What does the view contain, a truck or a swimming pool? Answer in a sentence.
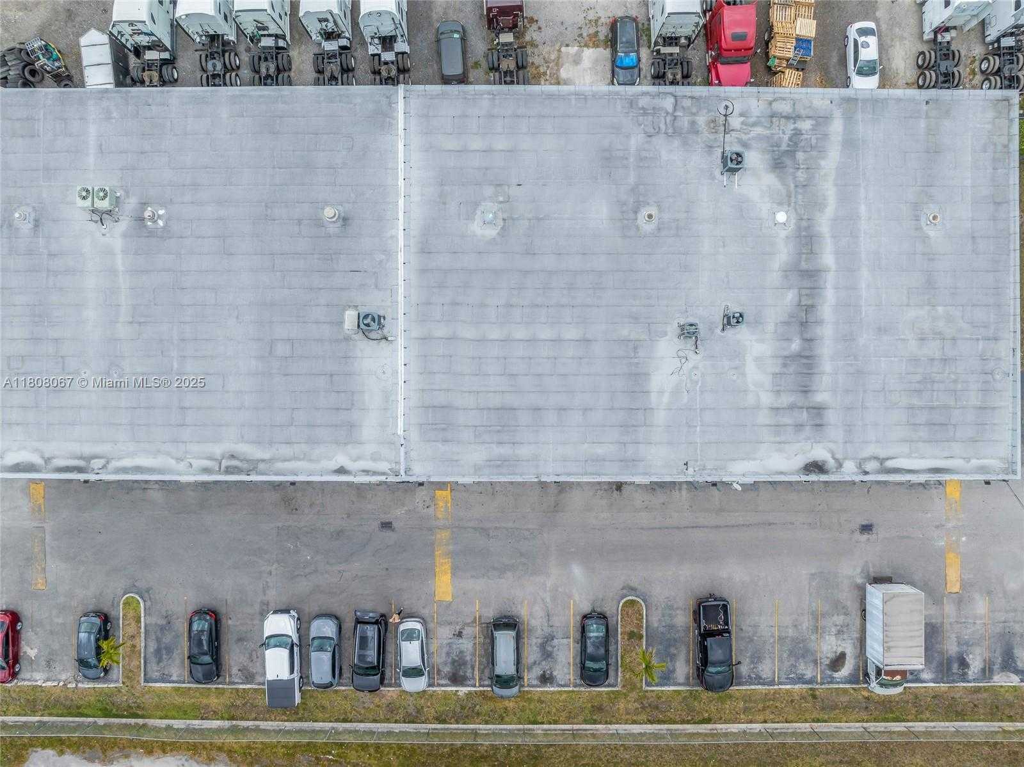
Visible in the photo is a truck.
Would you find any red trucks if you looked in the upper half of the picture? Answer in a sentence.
Yes, in the upper half of the picture there is a red truck.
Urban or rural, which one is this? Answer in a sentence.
From above, the setting appears urban.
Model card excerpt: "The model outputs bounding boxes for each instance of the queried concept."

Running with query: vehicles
[434,20,469,85]
[106,0,179,86]
[976,0,1024,94]
[306,613,343,689]
[607,13,643,86]
[261,607,303,708]
[0,610,26,684]
[488,0,528,86]
[349,614,387,696]
[177,0,242,86]
[360,0,410,85]
[696,586,737,691]
[651,0,704,87]
[914,0,993,88]
[184,607,224,682]
[578,610,613,686]
[860,571,925,693]
[395,614,431,692]
[73,610,113,678]
[841,18,883,88]
[301,0,355,85]
[707,0,763,87]
[234,0,294,86]
[487,613,523,697]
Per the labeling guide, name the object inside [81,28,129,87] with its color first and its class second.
white trailer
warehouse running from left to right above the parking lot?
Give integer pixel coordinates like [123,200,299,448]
[0,82,1021,483]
